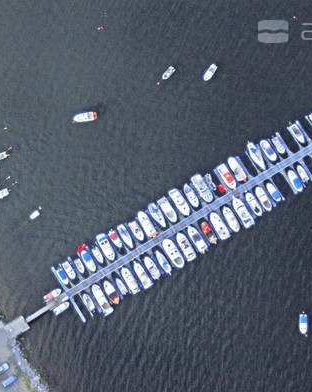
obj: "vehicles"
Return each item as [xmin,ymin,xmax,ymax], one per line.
[3,374,19,386]
[0,362,11,374]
